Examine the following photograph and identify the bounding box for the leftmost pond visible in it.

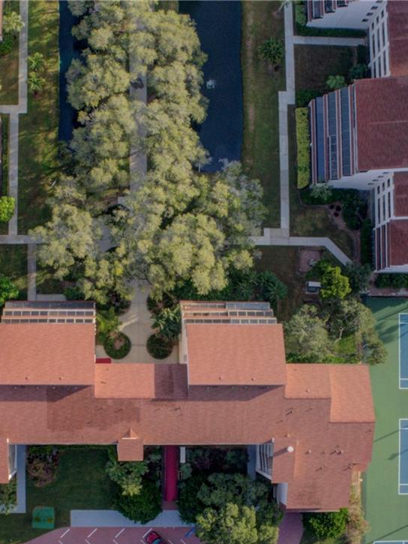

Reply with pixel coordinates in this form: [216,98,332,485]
[60,0,94,156]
